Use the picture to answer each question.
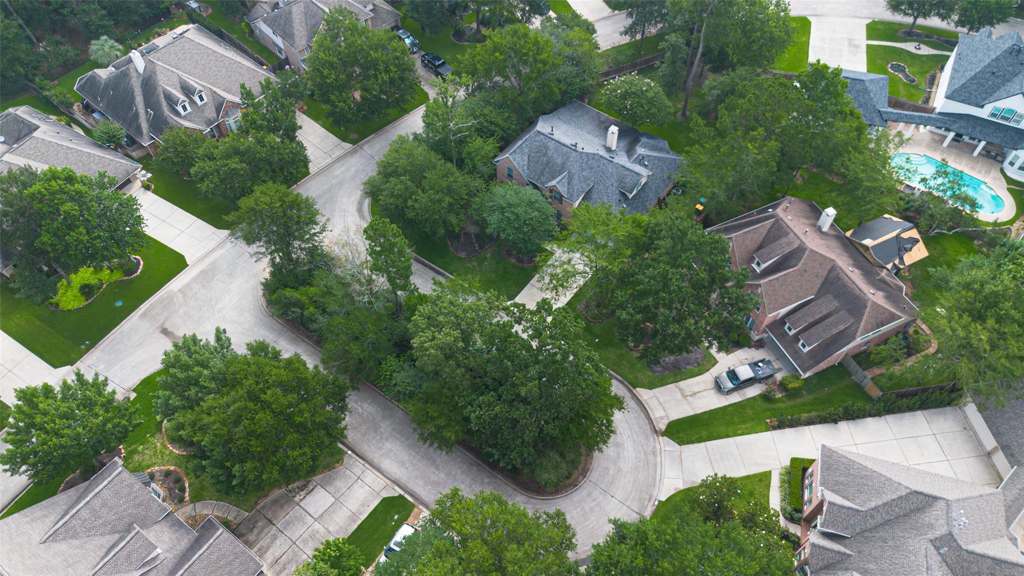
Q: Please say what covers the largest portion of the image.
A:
trees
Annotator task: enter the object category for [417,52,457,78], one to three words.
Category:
truck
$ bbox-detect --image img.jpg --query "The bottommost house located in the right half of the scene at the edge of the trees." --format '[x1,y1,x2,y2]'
[796,442,1024,576]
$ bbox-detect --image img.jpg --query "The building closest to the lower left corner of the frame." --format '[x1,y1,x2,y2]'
[0,456,268,576]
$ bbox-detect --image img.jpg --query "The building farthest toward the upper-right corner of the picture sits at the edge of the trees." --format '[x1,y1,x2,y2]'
[880,13,1024,181]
